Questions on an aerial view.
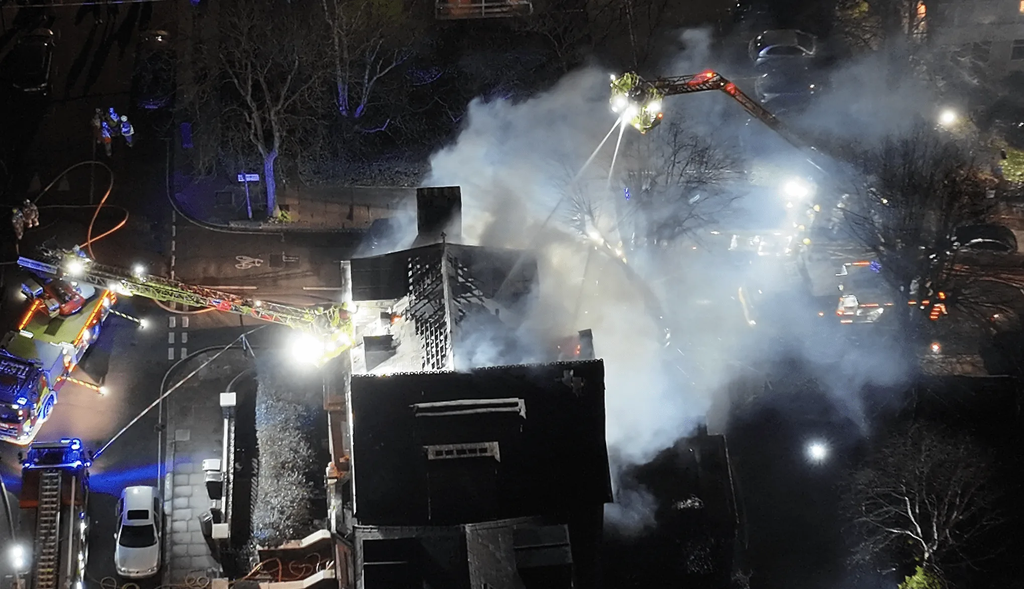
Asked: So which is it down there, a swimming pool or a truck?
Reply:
truck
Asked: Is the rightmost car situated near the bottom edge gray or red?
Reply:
gray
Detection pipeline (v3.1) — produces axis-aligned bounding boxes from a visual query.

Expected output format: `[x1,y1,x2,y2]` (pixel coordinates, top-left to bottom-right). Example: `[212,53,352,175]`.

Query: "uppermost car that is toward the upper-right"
[745,30,820,69]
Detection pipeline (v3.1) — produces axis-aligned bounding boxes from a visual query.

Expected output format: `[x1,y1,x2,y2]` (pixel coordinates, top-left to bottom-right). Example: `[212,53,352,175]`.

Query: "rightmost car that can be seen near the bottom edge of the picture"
[108,484,169,582]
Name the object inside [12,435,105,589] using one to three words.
truck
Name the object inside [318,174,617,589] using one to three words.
house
